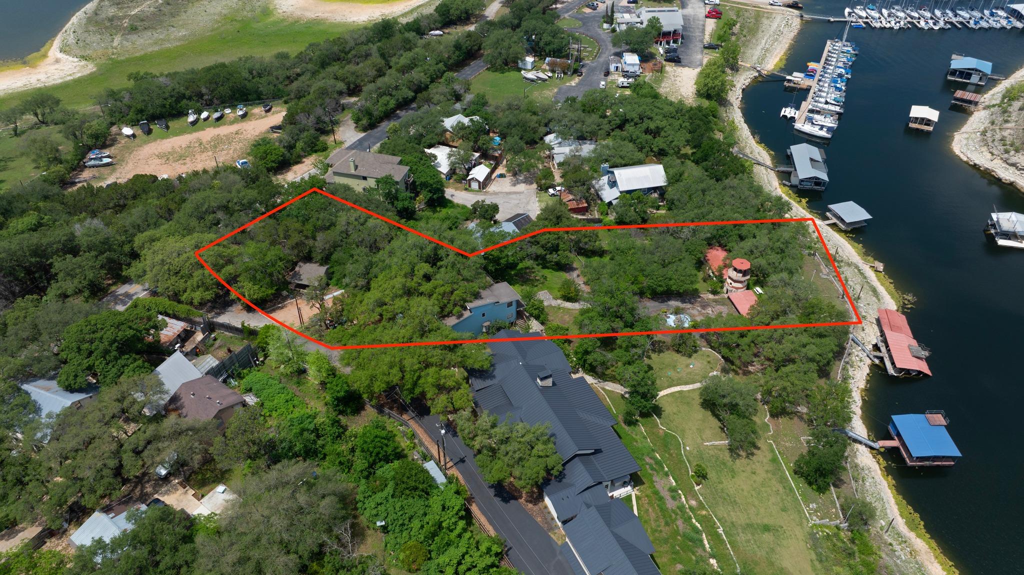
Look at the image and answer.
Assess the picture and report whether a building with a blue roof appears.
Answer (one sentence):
Yes, a building with a blue roof is visible in the scene.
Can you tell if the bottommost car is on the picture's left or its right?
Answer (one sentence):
The bottommost car is on the left side of the image.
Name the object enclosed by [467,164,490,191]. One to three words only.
building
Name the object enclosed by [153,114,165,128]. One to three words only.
boat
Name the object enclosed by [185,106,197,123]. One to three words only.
boat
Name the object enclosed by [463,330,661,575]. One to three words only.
house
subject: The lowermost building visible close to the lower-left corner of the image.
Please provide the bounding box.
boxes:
[70,495,149,552]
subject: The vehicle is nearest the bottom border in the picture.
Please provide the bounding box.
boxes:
[142,484,173,513]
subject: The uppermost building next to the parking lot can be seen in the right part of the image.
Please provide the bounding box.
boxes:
[610,7,684,47]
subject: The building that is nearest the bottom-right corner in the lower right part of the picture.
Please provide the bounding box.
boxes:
[878,410,961,466]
